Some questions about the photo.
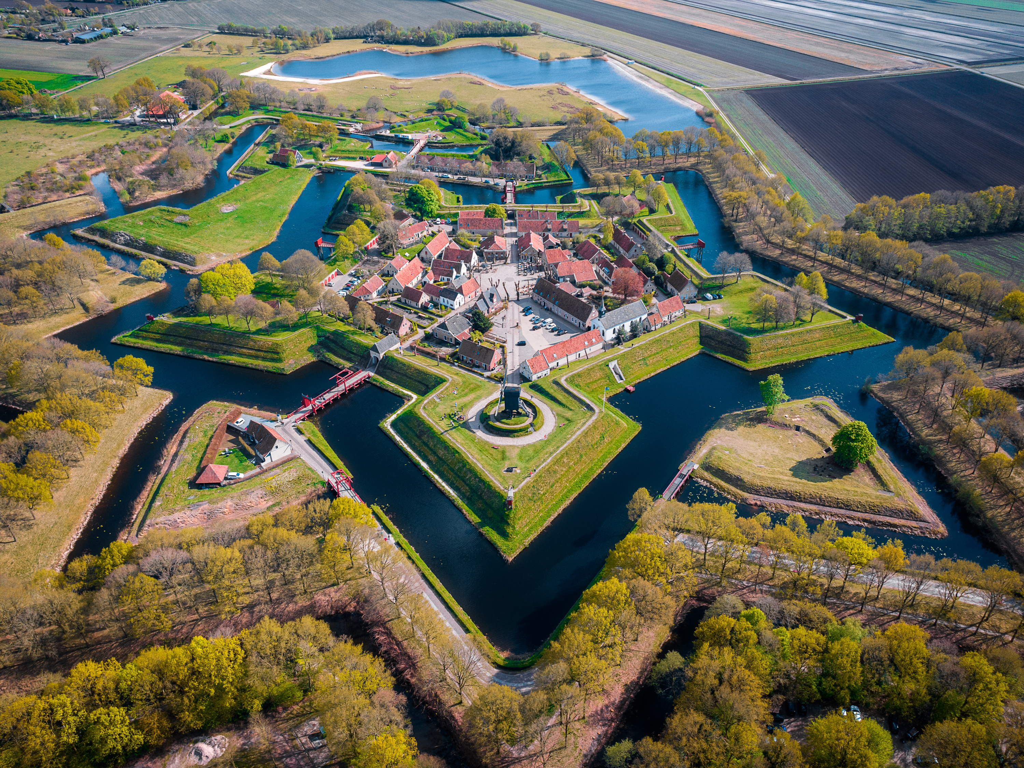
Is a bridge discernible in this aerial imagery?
Yes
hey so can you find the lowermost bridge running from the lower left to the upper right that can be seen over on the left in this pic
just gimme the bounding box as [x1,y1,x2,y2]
[285,364,371,423]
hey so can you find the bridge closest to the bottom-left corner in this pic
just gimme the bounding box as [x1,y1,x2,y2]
[325,459,365,502]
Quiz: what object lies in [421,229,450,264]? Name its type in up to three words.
building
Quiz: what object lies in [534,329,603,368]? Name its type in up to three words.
house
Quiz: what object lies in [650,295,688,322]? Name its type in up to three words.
house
